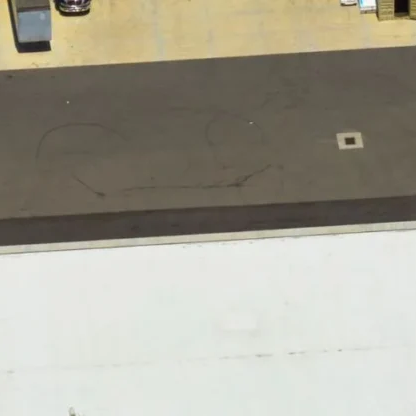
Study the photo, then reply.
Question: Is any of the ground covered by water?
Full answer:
No, water can't be seen anywhere here.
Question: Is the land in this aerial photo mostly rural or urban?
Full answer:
It looks urban.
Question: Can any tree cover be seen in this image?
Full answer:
No, there is no tree cover in the image.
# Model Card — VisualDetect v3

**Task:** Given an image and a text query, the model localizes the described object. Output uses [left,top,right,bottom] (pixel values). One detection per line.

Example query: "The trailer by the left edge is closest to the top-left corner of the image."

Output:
[15,0,52,51]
